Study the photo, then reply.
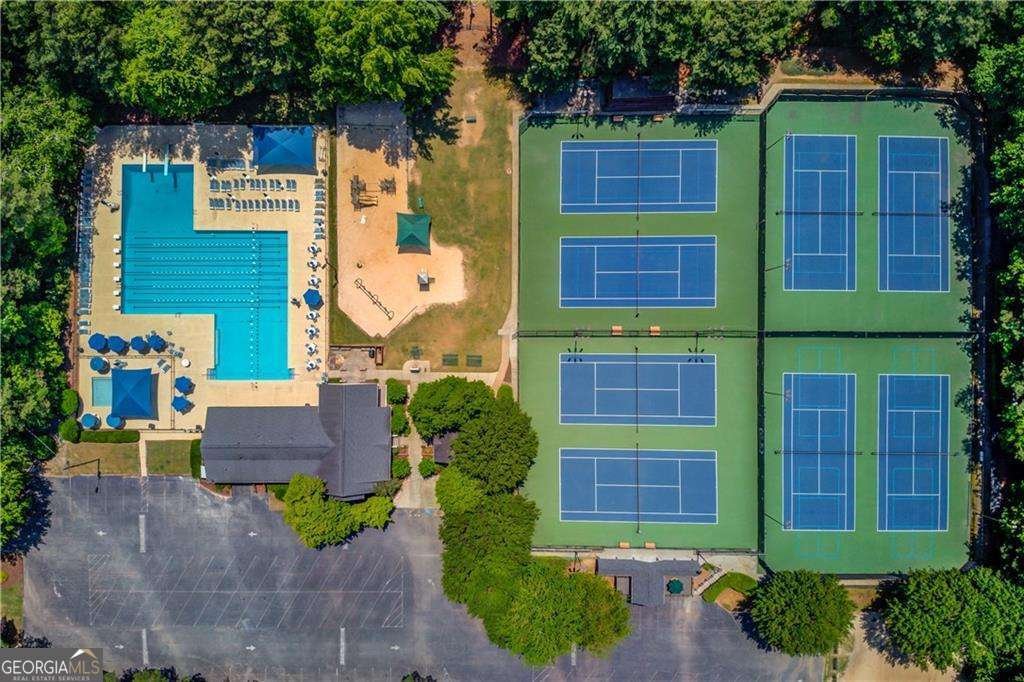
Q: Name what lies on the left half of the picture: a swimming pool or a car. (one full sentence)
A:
Looking on the left half of the picture, you will find a swimming pool.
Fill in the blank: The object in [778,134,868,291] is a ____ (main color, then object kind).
blue tennis court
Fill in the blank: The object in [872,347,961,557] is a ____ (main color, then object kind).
blue tennis court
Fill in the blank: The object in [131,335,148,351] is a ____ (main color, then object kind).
blue umbrella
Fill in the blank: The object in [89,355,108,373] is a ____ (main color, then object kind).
blue umbrella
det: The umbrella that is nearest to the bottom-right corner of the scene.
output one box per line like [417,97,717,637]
[666,577,683,594]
